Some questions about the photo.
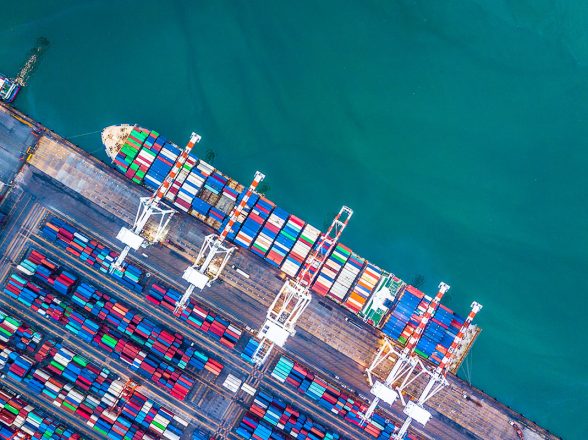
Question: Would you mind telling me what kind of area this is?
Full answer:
The area seen from above is a port.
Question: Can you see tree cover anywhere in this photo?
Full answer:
No, there's no tree cover in this view.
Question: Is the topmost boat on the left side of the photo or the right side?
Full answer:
The topmost boat is on the left side of the image.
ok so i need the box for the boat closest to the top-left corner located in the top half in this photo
[0,72,20,102]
